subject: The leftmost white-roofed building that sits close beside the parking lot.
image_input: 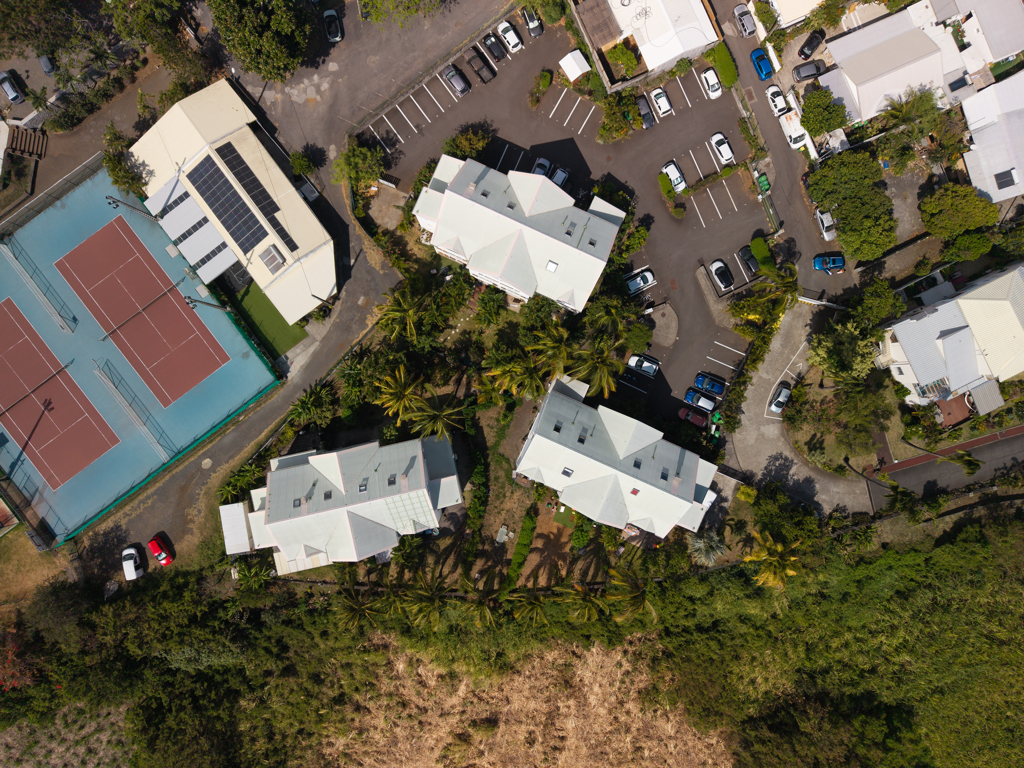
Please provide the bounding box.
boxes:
[130,78,340,325]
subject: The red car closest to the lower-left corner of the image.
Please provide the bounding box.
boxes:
[150,534,175,566]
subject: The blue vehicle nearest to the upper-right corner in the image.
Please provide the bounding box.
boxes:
[749,49,772,82]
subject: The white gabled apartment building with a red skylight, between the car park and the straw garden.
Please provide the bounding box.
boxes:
[516,374,718,539]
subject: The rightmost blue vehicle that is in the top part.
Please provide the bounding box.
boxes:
[811,255,845,278]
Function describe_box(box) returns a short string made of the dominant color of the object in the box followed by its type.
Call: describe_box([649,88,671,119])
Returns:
white car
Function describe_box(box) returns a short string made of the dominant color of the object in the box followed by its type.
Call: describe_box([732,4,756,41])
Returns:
gray car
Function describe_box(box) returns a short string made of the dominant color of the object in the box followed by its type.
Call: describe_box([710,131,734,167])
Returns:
white car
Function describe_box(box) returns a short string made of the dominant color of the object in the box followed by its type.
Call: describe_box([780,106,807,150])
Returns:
white vehicle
